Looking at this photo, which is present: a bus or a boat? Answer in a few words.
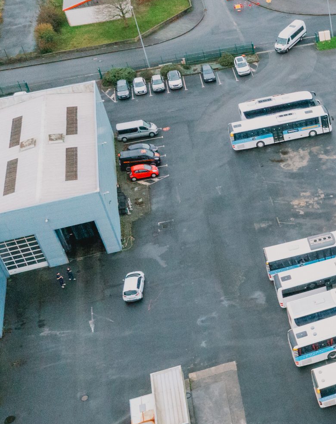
bus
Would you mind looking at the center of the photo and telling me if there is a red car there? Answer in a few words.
Yes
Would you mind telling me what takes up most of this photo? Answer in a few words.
paved ground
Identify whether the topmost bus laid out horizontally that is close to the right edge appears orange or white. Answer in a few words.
white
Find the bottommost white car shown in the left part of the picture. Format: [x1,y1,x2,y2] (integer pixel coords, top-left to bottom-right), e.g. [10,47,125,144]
[122,270,143,299]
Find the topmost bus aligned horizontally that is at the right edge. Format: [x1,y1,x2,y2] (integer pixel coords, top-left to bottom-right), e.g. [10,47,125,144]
[234,83,328,123]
